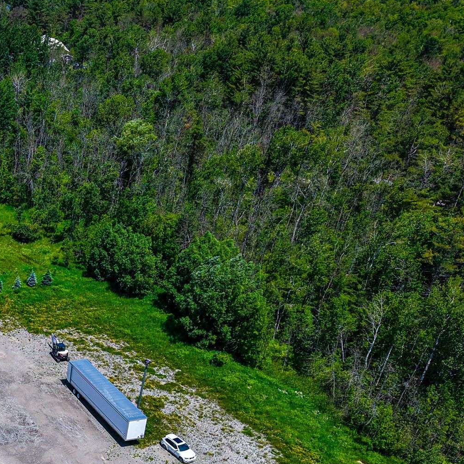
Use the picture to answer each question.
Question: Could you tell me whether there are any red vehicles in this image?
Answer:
No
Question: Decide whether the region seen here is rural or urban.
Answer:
rural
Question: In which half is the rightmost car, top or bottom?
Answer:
bottom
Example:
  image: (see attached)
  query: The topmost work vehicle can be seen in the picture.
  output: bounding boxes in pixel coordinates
[49,336,71,362]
